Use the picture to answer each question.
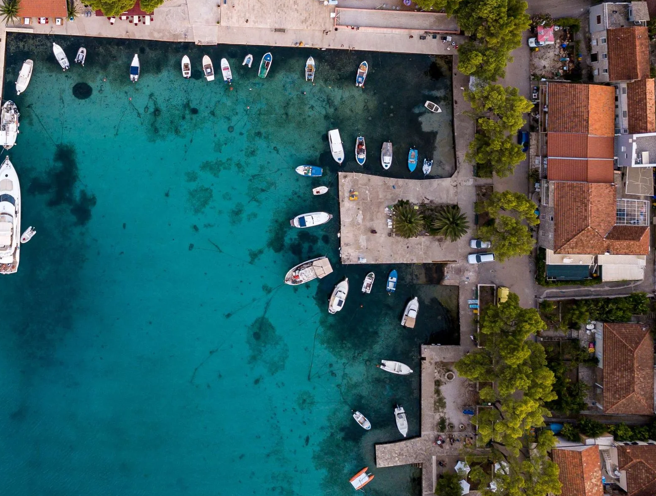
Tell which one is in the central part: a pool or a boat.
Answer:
boat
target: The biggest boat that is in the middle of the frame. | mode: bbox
[284,257,335,285]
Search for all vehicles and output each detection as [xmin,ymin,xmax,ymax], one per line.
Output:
[516,130,530,153]
[466,252,496,264]
[527,36,555,48]
[496,285,511,308]
[468,239,491,249]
